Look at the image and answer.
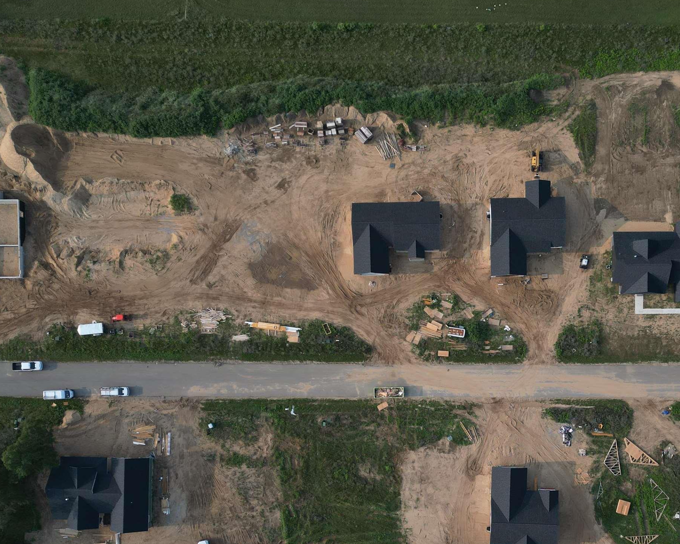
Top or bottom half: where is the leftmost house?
bottom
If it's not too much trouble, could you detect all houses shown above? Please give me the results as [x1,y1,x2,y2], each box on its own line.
[484,467,562,544]
[484,176,567,276]
[44,457,153,536]
[349,202,444,274]
[605,219,680,301]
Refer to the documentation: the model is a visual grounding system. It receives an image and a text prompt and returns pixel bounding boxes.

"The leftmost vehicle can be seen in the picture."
[12,359,44,373]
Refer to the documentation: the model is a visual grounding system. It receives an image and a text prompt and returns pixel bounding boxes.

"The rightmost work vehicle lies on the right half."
[579,251,591,270]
